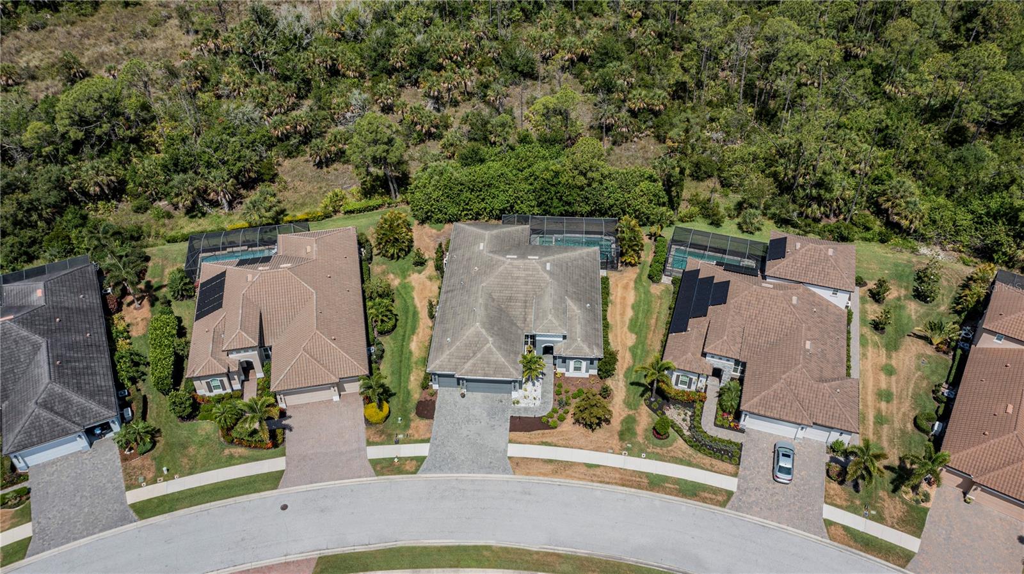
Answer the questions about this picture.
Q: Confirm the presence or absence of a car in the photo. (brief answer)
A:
Yes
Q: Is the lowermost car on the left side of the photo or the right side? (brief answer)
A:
right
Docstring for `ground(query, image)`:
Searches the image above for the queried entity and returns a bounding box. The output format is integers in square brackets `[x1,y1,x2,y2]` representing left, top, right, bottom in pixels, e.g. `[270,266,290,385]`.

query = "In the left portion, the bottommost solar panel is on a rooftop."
[194,269,227,321]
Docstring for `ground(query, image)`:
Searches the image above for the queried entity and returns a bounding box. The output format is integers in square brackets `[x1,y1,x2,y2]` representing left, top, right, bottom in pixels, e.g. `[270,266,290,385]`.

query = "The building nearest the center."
[426,222,606,397]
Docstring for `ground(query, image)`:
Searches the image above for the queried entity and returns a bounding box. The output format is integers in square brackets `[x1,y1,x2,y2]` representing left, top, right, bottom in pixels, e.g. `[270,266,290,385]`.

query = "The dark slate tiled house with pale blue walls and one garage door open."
[0,264,121,469]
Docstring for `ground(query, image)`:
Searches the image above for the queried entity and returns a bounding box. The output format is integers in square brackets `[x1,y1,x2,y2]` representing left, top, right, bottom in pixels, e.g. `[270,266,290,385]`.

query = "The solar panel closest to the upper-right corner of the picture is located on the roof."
[767,237,786,261]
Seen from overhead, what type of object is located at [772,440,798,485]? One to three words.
car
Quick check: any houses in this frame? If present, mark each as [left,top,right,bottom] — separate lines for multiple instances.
[936,281,1024,522]
[0,264,121,469]
[186,224,370,407]
[426,222,606,397]
[663,229,860,447]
